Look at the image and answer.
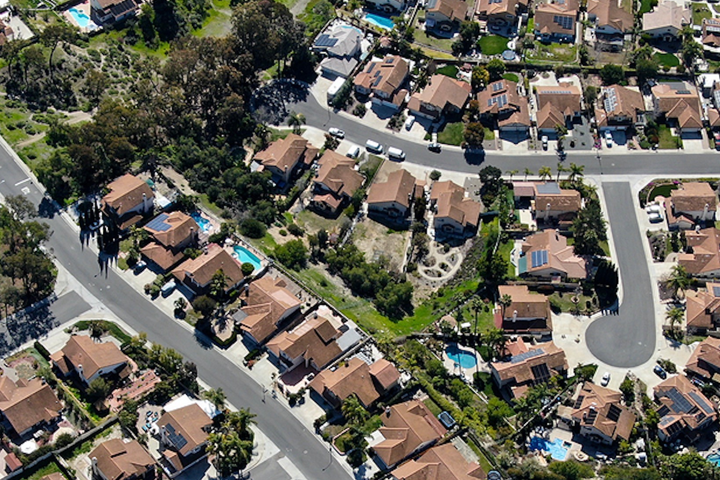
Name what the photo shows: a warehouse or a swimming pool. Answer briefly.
swimming pool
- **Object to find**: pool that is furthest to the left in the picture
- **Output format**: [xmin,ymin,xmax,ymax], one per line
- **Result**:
[69,8,91,28]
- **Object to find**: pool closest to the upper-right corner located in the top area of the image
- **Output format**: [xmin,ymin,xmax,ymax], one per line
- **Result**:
[358,10,395,31]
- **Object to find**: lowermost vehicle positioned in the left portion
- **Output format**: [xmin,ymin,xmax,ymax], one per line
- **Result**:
[160,279,179,292]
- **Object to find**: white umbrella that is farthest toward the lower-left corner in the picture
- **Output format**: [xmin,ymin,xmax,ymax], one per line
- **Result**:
[21,440,38,454]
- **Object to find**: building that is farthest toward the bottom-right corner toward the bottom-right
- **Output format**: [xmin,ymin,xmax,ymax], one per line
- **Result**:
[654,372,717,441]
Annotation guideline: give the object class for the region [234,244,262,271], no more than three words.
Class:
swimming pool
